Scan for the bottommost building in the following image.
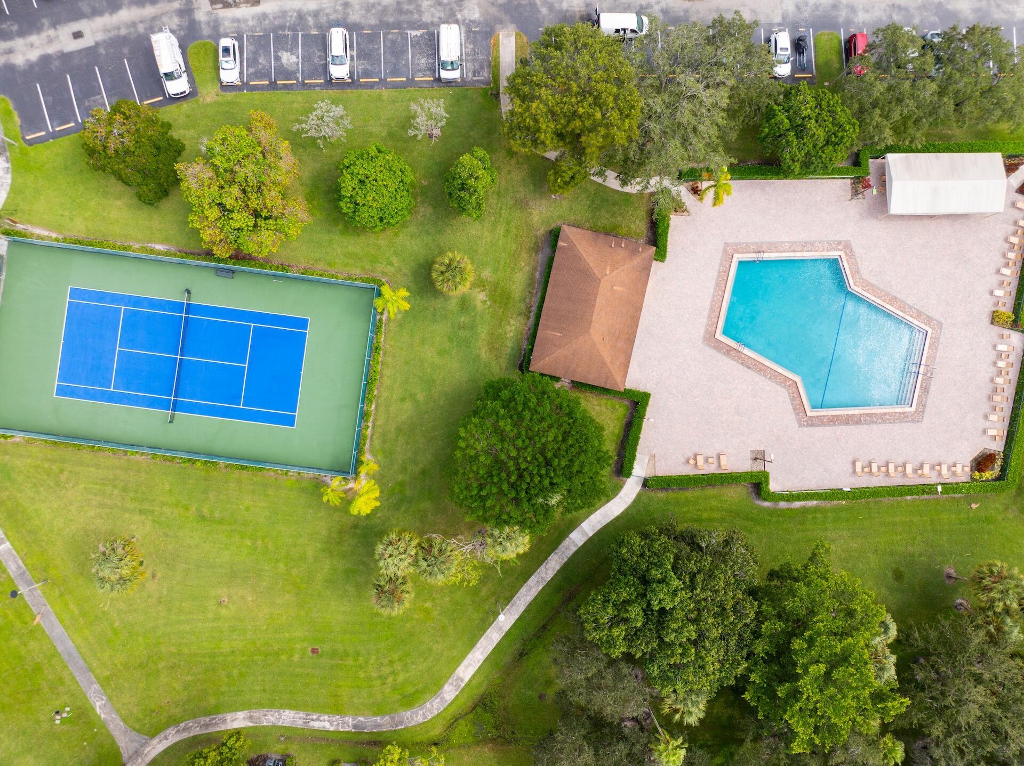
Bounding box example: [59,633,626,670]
[530,224,656,391]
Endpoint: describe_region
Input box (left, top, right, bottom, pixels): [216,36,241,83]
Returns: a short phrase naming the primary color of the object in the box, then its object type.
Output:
white car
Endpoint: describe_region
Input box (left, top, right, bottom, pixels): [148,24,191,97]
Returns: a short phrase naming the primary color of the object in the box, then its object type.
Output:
white van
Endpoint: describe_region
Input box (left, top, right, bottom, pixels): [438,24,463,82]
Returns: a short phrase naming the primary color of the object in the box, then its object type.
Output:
white vehicle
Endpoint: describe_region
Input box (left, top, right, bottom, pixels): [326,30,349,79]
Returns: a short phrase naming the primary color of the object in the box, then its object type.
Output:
white car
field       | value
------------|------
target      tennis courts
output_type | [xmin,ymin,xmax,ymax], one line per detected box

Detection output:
[0,242,374,475]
